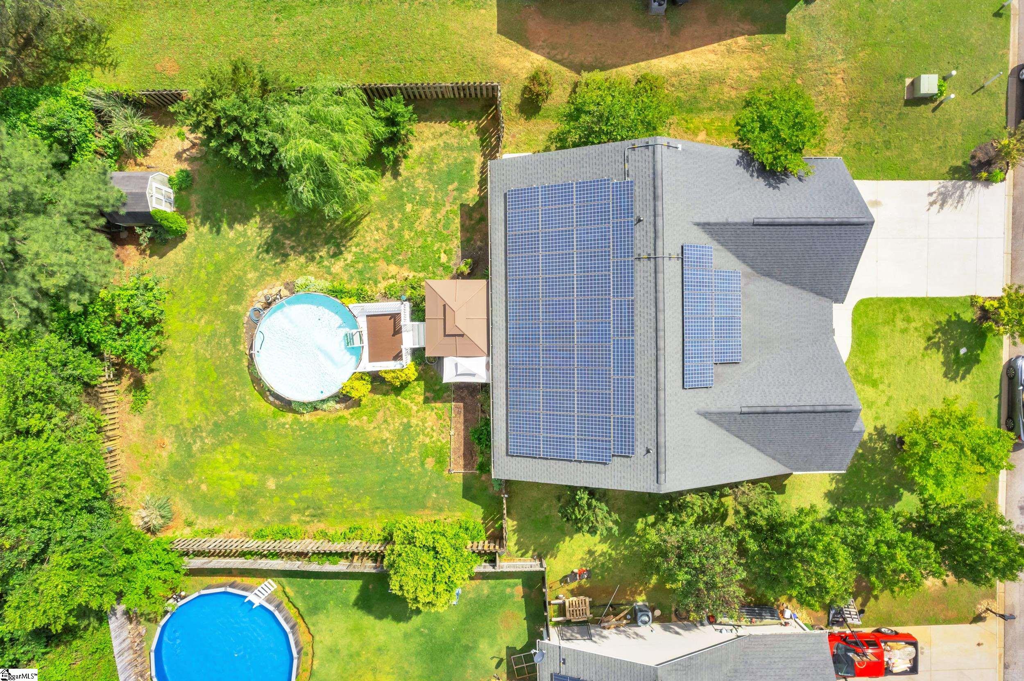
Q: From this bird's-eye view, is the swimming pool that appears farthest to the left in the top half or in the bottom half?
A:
bottom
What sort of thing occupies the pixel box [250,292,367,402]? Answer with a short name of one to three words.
swimming pool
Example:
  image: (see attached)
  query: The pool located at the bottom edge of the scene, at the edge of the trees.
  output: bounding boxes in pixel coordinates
[154,586,304,681]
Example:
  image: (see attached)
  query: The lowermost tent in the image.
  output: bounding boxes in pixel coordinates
[443,357,486,382]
